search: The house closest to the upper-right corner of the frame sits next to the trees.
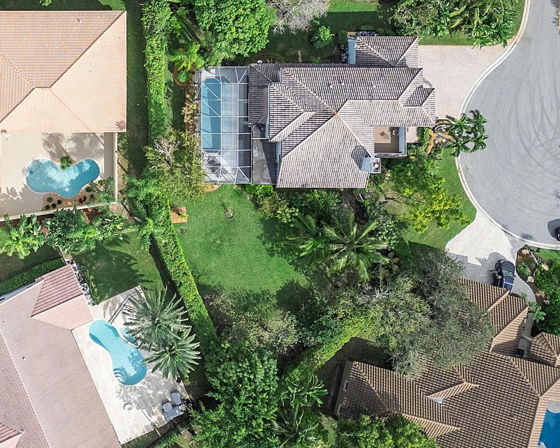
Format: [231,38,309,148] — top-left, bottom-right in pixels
[245,35,437,189]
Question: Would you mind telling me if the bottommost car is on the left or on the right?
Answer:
right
